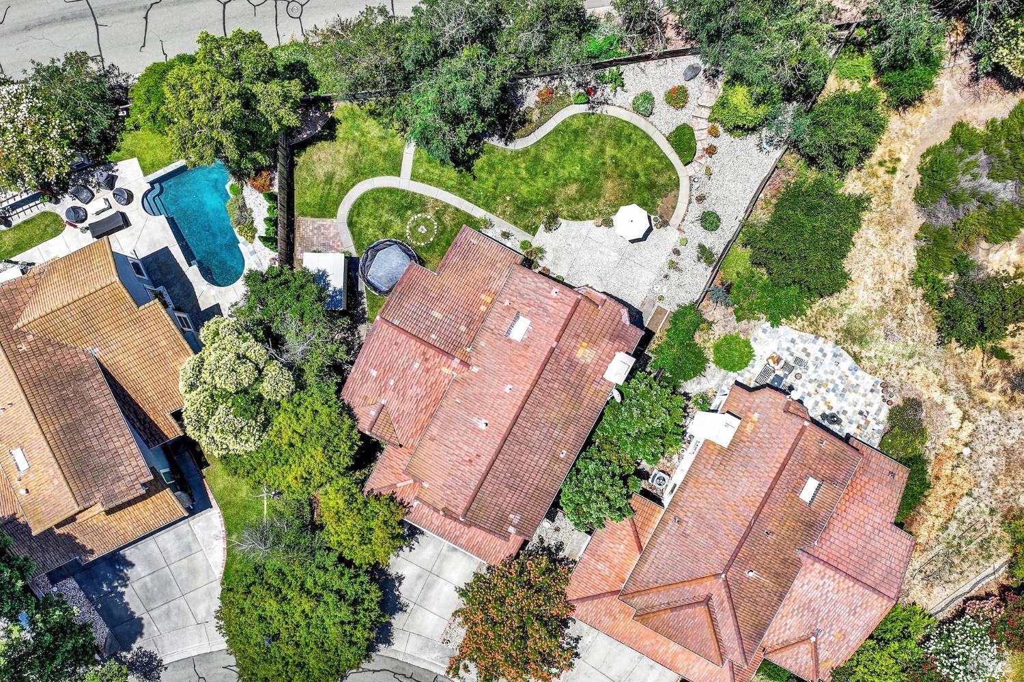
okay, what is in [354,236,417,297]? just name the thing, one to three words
trampoline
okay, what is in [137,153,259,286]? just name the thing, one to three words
swimming pool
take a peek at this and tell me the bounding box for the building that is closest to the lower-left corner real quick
[0,234,205,590]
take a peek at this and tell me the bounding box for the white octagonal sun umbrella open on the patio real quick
[612,205,650,244]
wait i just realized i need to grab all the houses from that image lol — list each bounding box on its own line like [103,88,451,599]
[0,234,205,590]
[338,224,646,574]
[555,384,918,682]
